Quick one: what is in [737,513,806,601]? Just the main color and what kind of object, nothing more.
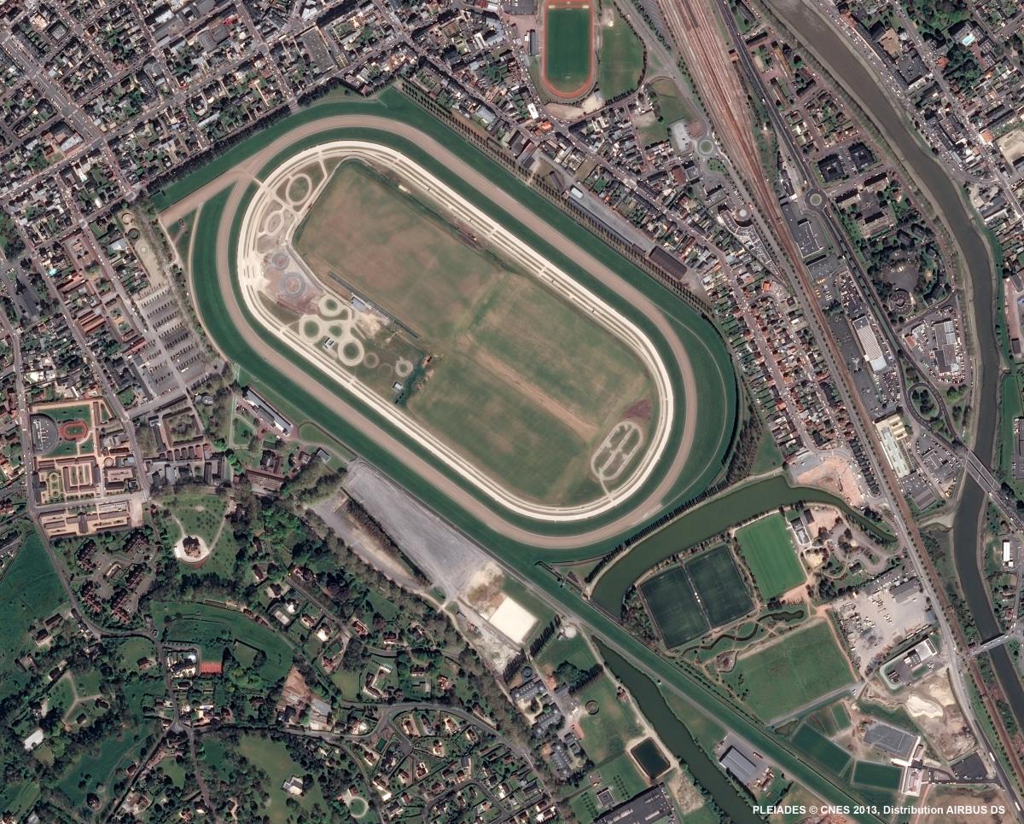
green soccer field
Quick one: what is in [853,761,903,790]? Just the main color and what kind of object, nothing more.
green sports field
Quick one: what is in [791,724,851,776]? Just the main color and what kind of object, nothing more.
green sports field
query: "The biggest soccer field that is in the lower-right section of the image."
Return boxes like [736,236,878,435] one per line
[738,621,853,721]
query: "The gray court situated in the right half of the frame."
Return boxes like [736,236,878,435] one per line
[864,723,917,758]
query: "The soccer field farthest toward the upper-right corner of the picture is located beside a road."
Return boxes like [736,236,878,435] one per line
[600,26,645,100]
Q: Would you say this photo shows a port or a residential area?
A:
residential area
